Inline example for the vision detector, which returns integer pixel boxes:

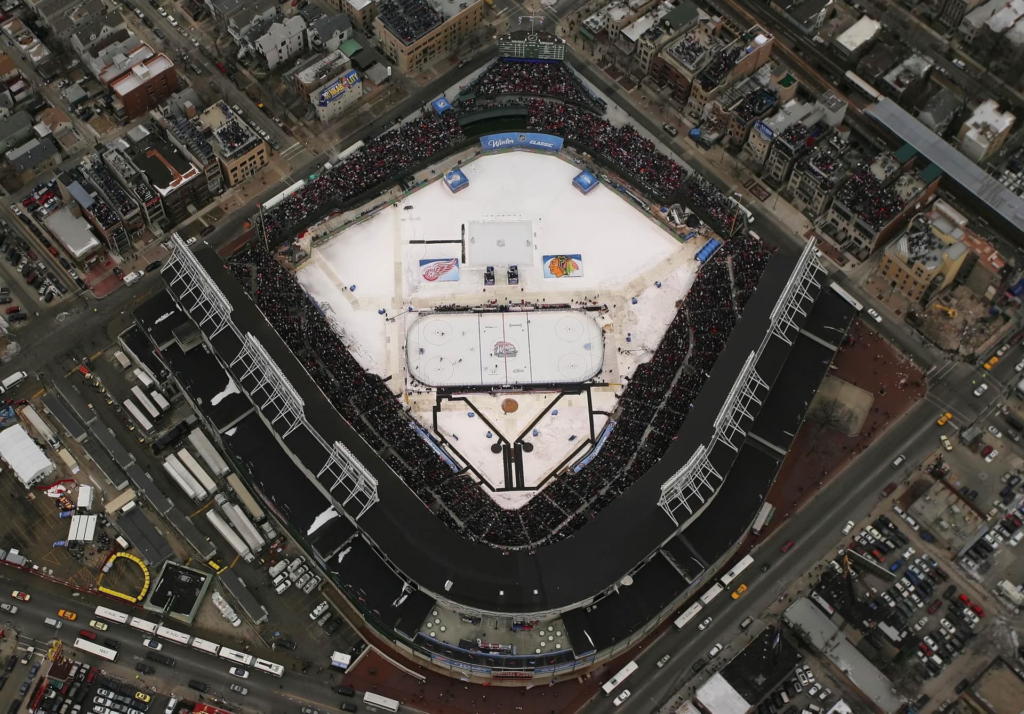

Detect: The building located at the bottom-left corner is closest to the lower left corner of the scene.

[44,659,72,680]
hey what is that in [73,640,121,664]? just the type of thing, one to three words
bus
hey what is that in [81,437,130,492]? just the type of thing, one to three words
building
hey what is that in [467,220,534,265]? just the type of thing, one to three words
sports court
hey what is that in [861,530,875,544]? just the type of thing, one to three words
car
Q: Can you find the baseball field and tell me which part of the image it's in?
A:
center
